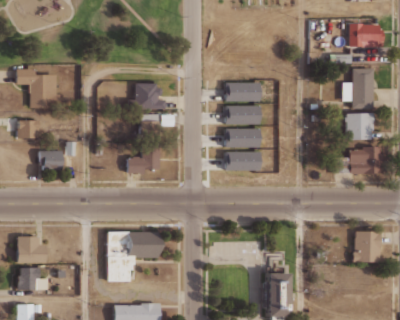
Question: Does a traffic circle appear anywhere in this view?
No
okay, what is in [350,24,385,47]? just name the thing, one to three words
house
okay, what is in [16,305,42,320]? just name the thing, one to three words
house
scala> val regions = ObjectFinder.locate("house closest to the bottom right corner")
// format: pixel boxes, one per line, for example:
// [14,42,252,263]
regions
[354,232,383,264]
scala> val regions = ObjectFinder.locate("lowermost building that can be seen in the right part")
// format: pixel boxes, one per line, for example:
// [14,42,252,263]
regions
[270,274,293,320]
